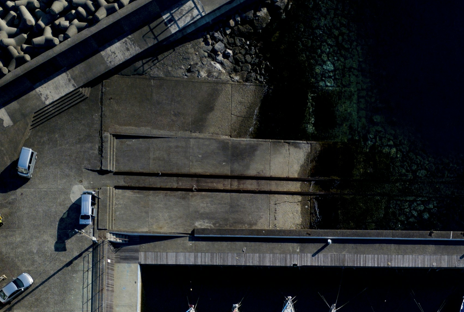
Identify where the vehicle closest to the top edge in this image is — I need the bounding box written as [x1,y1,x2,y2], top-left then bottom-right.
[16,144,37,177]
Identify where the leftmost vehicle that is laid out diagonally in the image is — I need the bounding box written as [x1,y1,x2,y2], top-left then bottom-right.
[0,272,36,305]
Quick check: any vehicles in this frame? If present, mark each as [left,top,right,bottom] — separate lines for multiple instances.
[0,272,36,305]
[76,190,100,225]
[16,144,37,177]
